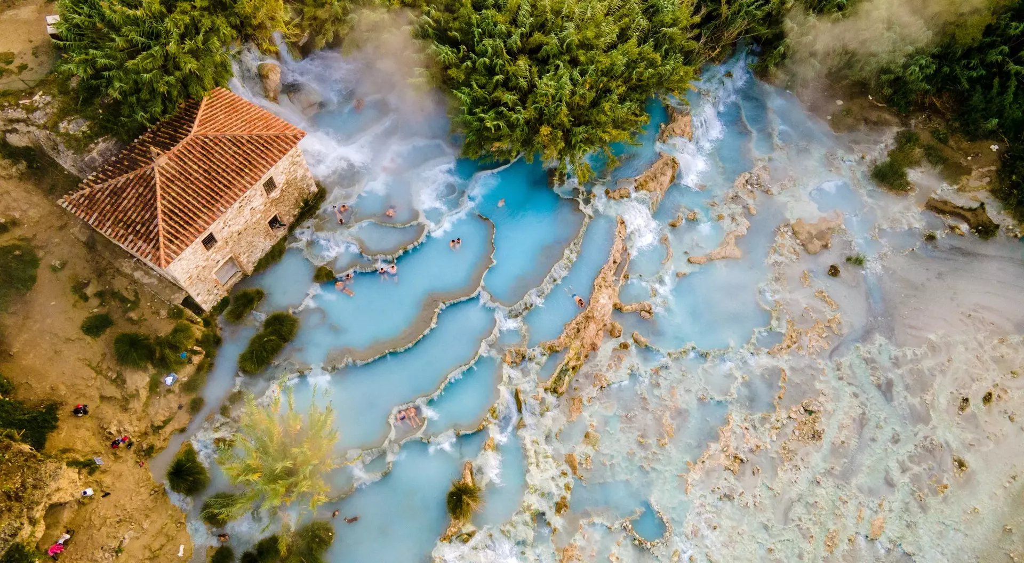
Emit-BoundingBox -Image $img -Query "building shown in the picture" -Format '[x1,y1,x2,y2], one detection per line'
[55,84,318,308]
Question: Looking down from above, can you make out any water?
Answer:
Yes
